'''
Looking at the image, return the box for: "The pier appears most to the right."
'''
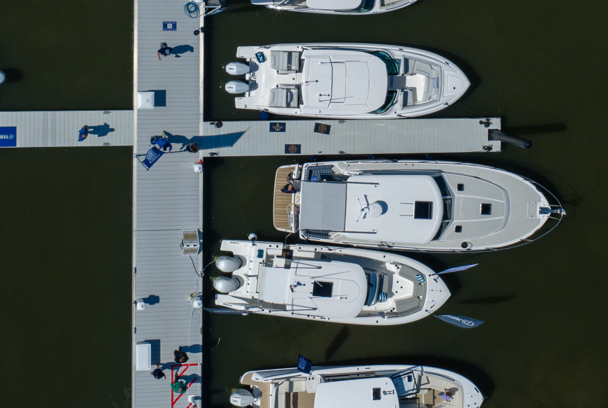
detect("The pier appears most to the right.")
[204,117,501,157]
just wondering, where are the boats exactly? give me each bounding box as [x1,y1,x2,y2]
[229,360,487,408]
[224,42,471,120]
[212,238,451,326]
[0,70,7,85]
[273,159,567,253]
[250,0,415,15]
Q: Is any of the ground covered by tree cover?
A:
No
